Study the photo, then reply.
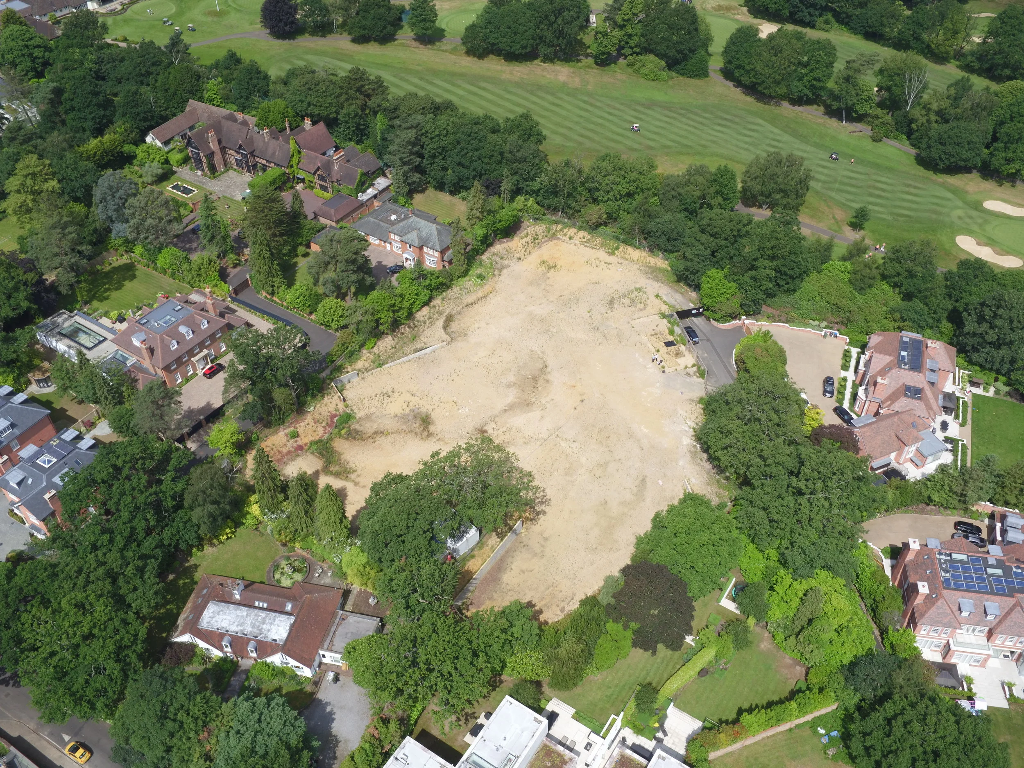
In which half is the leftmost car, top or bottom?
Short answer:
bottom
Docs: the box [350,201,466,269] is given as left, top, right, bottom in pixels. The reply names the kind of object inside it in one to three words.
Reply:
house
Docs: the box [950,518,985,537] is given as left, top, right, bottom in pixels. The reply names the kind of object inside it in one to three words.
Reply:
car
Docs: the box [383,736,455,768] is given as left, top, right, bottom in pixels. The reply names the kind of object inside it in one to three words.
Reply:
house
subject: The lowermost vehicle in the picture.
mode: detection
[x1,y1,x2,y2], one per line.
[64,743,95,767]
